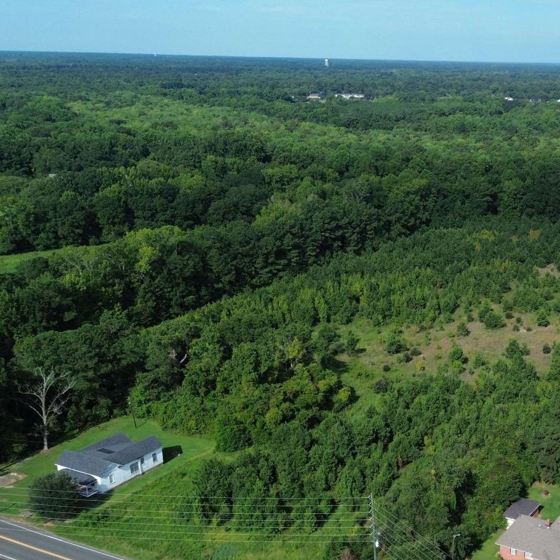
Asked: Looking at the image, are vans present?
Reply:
No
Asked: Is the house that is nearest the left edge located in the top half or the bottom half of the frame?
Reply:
bottom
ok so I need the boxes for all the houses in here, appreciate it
[51,433,169,496]
[495,509,560,560]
